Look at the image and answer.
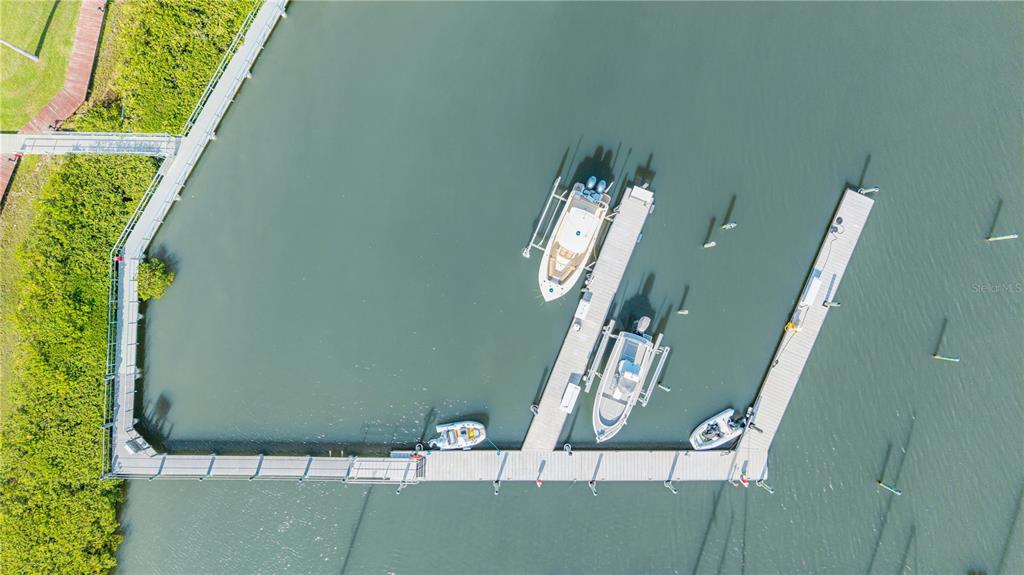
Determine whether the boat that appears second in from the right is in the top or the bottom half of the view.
bottom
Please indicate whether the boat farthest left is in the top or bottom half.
bottom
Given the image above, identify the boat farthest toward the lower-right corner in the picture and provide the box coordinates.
[690,407,746,445]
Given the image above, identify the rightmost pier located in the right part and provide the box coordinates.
[735,185,875,482]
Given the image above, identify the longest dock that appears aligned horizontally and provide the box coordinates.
[389,442,766,489]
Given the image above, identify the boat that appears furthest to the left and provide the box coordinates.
[419,422,488,449]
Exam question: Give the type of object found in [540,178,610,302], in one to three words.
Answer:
boat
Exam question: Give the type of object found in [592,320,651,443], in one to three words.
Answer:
boat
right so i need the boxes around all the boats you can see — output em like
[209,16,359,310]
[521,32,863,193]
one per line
[419,422,488,449]
[690,407,746,445]
[592,320,651,443]
[540,178,610,302]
